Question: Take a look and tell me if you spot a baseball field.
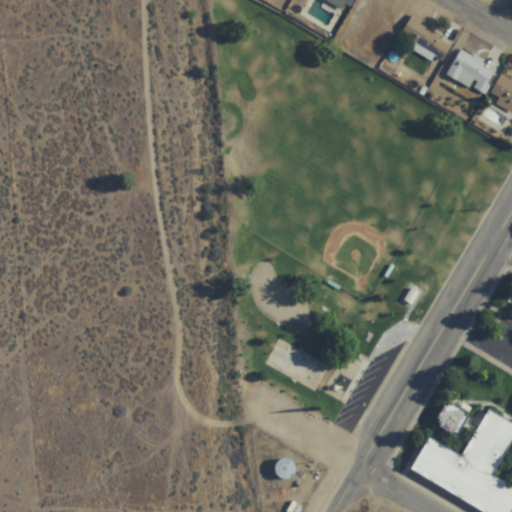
Yes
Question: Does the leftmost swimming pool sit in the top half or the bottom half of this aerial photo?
top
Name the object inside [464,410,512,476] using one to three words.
building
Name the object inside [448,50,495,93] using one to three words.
house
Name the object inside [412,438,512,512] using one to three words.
building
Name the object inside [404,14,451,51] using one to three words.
house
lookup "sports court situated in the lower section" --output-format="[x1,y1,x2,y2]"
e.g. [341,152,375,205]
[266,338,326,390]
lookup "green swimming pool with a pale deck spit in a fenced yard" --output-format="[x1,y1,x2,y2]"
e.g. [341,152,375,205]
[300,0,338,33]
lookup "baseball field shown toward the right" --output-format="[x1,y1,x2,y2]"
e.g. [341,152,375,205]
[324,222,386,291]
